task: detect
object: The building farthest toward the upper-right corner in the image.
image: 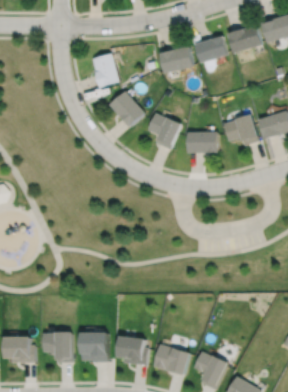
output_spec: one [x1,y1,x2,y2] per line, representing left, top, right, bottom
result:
[260,14,288,43]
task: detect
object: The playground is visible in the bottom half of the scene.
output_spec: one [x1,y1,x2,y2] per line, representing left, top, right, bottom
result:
[0,206,44,272]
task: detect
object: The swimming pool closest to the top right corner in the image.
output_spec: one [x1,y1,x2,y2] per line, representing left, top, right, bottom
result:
[186,75,202,91]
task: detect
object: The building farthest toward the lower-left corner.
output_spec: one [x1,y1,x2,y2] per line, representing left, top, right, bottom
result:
[0,337,36,364]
